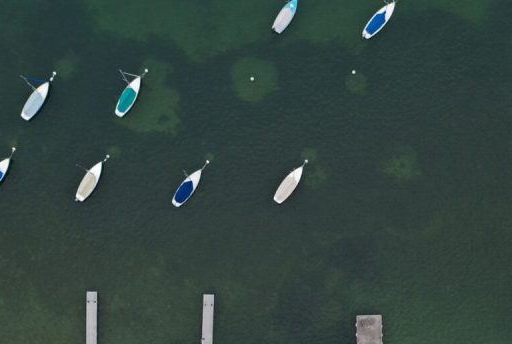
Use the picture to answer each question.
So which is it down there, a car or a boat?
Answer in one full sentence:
Visible in the photo is a boat.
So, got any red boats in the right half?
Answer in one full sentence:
No, there's no red boat to be seen in the right half.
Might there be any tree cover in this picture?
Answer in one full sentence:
No, the picture contains no tree cover.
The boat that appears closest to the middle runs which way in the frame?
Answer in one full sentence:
The boat that appears closest to the middle is oriented diagonally.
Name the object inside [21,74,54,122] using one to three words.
boat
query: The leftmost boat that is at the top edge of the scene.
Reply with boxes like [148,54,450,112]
[274,0,298,35]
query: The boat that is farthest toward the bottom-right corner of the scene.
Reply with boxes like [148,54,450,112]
[274,162,306,205]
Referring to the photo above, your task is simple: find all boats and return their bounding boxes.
[274,0,298,35]
[0,151,13,183]
[361,0,395,41]
[116,71,145,118]
[172,163,207,208]
[274,162,306,205]
[76,159,106,203]
[21,74,54,122]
